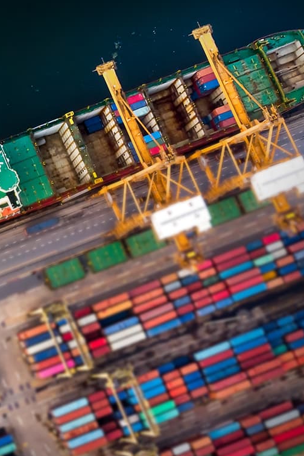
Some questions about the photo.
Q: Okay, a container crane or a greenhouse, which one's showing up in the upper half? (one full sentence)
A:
Visible in the upper half is a container crane.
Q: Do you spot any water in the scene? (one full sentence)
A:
Yes, there is water in the image.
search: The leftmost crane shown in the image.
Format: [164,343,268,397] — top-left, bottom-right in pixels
[27,299,93,378]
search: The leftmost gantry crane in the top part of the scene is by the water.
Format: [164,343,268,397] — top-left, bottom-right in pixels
[92,60,216,269]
